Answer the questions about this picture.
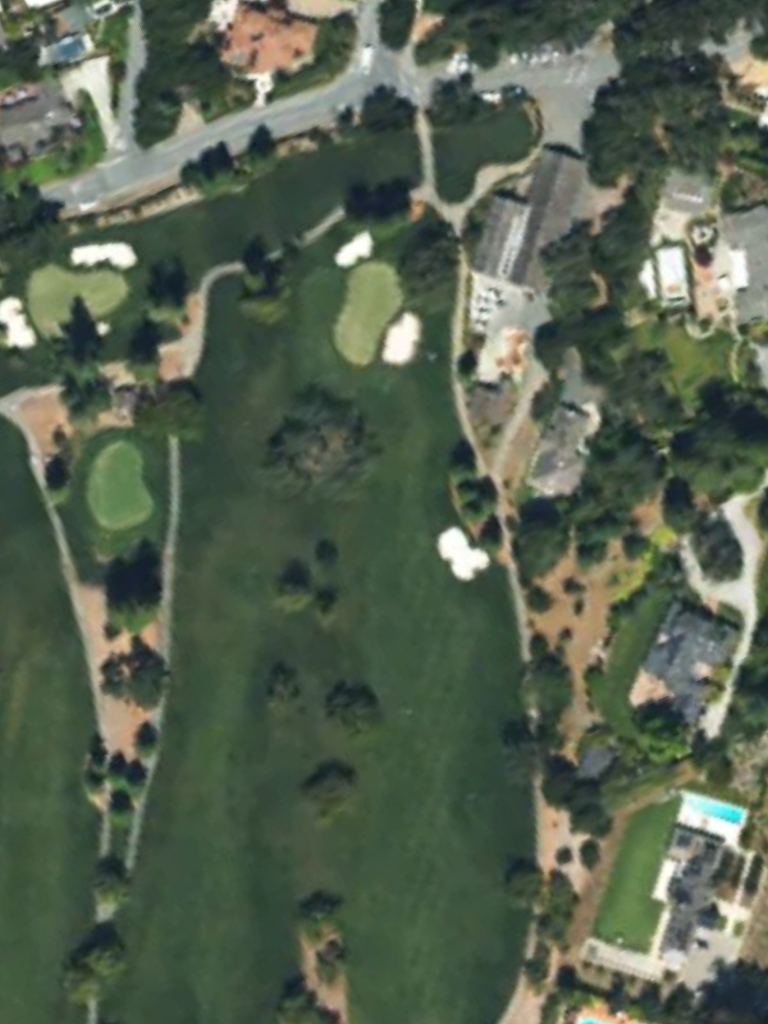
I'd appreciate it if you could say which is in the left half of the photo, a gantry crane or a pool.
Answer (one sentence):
You can see a pool in the left half of the photo.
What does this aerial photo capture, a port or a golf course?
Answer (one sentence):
The picture captures a golf course.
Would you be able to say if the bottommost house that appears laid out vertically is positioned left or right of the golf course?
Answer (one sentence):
Looking at the photo, the bottommost house that appears laid out vertically lies to the right of the golf course.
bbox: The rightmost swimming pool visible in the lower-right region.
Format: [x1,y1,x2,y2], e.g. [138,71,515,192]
[676,791,747,846]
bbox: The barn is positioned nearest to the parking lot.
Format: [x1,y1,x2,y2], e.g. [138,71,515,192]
[511,147,584,291]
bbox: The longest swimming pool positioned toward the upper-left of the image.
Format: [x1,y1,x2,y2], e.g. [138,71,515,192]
[43,34,93,65]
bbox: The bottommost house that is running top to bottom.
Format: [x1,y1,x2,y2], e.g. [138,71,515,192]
[660,819,729,964]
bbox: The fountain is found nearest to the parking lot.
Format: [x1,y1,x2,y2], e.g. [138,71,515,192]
[693,223,712,242]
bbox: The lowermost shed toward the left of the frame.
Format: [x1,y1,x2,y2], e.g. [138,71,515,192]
[114,386,133,418]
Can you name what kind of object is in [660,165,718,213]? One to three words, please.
building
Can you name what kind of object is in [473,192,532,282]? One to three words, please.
barn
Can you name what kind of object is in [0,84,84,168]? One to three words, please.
house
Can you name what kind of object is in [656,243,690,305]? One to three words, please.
building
